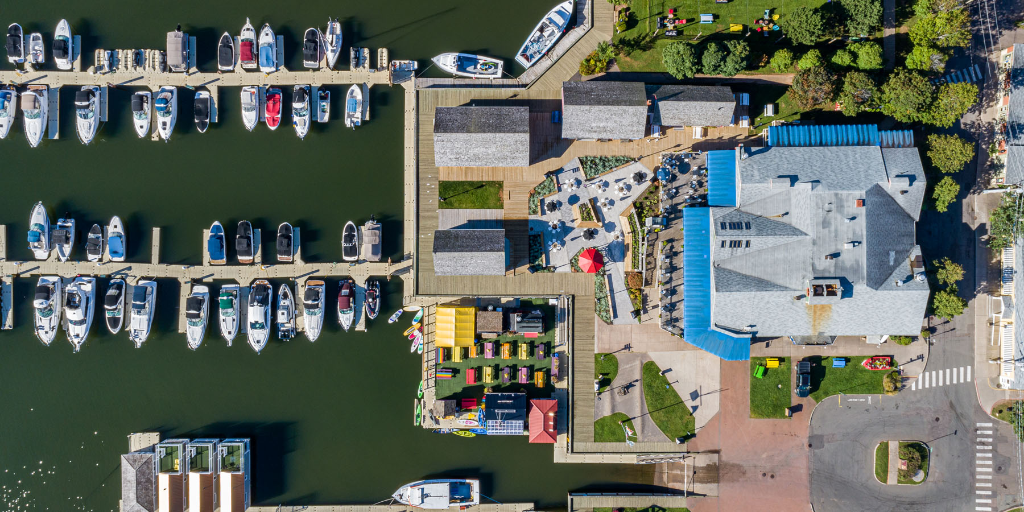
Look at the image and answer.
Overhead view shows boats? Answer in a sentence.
Yes, the frame does contain a boat.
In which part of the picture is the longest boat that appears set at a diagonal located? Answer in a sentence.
The longest boat that appears set at a diagonal is located in the top region of the scene.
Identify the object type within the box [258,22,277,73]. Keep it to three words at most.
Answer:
boat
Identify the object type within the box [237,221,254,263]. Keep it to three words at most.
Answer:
boat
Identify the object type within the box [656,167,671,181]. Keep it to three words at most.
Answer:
umbrella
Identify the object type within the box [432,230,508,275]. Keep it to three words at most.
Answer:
shed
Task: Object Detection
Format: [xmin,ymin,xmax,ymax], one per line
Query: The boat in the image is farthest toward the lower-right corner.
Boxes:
[863,356,892,370]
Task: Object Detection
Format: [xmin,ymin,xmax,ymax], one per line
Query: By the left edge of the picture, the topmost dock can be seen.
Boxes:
[0,35,391,141]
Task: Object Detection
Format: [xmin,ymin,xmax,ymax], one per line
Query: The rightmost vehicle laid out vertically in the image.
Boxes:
[794,360,812,398]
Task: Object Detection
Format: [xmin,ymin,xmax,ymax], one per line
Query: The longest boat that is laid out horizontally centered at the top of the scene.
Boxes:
[422,55,504,81]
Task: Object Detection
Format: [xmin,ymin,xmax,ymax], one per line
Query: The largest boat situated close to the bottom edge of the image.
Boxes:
[373,480,502,510]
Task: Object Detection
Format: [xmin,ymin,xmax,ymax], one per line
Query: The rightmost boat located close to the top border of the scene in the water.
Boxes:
[513,1,572,72]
